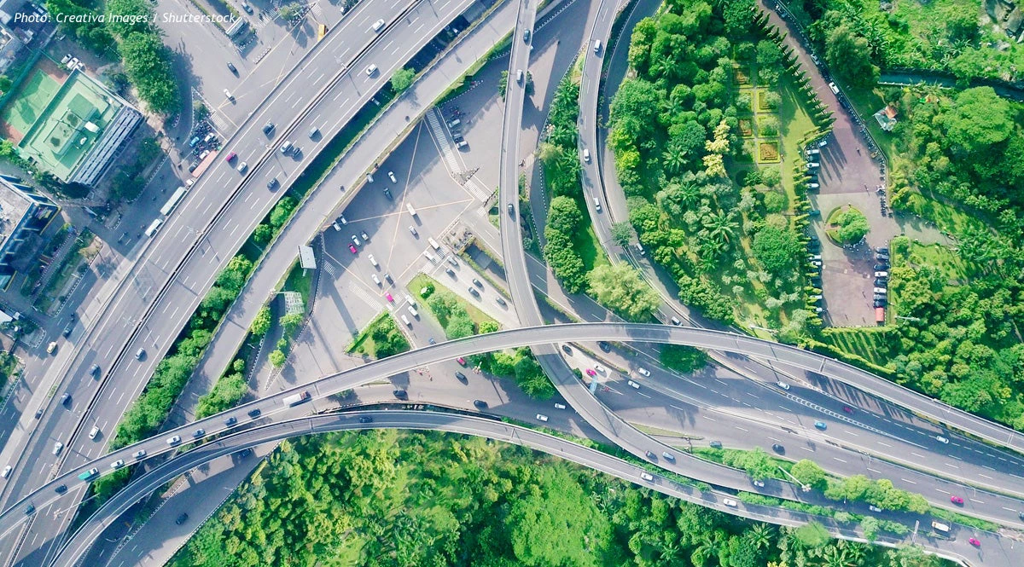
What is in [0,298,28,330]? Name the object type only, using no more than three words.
house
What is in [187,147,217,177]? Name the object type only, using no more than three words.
bus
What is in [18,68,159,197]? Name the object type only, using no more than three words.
building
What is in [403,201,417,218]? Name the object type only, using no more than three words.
vehicle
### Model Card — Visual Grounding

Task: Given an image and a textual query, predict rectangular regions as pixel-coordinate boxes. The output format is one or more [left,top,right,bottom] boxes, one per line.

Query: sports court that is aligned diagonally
[0,56,69,143]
